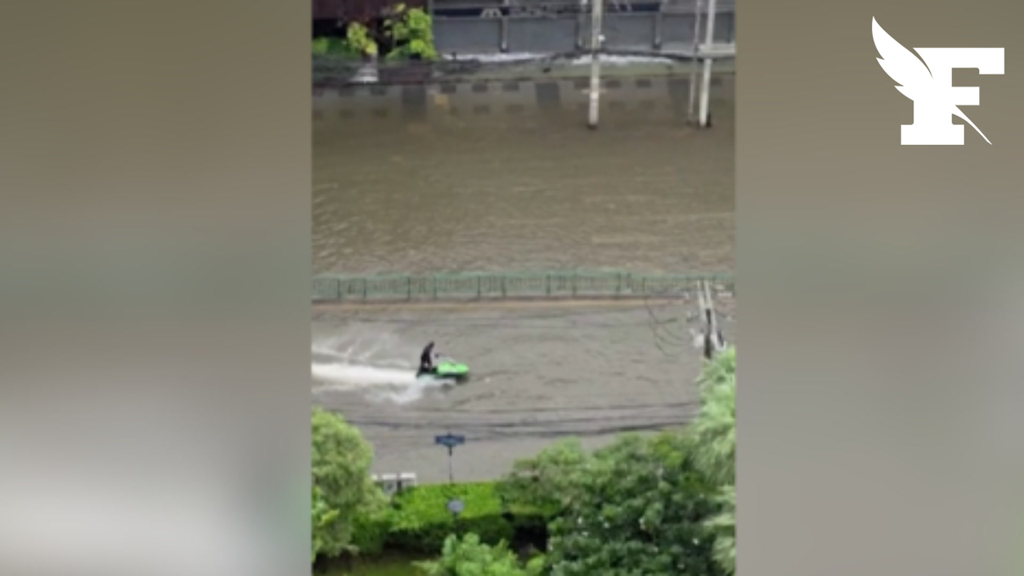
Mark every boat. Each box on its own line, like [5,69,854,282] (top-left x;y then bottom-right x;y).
[417,350,471,379]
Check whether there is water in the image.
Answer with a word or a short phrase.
Yes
